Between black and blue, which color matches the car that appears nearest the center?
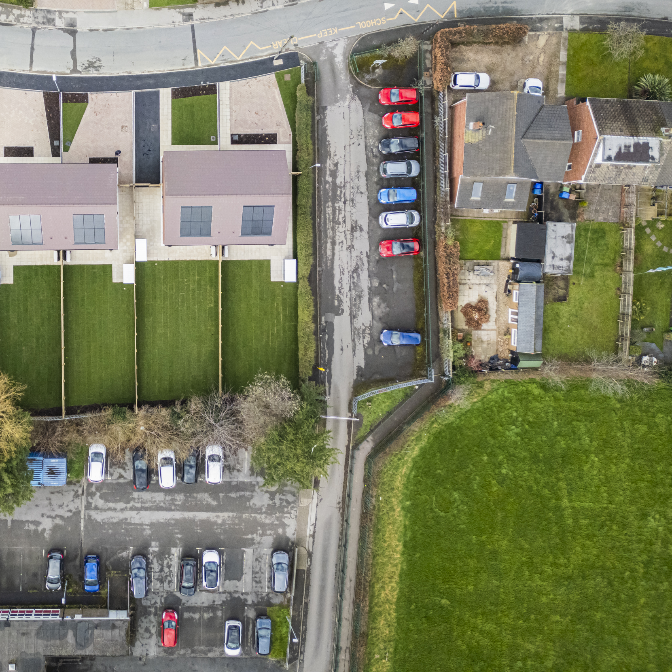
blue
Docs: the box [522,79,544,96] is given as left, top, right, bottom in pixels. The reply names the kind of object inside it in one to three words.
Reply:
car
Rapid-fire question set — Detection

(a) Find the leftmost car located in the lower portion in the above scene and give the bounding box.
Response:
[44,550,63,590]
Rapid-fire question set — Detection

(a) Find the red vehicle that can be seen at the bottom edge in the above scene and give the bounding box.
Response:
[160,607,178,648]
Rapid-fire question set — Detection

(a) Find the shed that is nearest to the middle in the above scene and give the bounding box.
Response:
[281,259,296,282]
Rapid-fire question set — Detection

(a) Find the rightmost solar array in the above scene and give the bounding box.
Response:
[242,206,273,237]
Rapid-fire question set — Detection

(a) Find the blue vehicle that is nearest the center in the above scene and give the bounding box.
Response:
[379,328,420,348]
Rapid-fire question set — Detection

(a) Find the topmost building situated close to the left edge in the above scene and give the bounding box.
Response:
[0,163,118,251]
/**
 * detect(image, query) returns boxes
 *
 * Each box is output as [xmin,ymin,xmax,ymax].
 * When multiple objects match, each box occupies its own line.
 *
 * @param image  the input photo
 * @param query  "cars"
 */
[378,209,420,229]
[378,238,420,258]
[82,554,102,592]
[204,444,223,484]
[377,86,418,106]
[44,550,63,590]
[379,328,420,348]
[131,448,149,490]
[270,550,290,593]
[86,442,106,483]
[177,555,197,595]
[128,554,149,598]
[202,548,220,589]
[377,186,416,205]
[522,79,544,96]
[160,607,178,648]
[182,447,200,484]
[380,111,419,130]
[378,135,419,155]
[156,447,176,488]
[378,159,420,178]
[224,618,243,656]
[453,71,490,90]
[254,614,274,656]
